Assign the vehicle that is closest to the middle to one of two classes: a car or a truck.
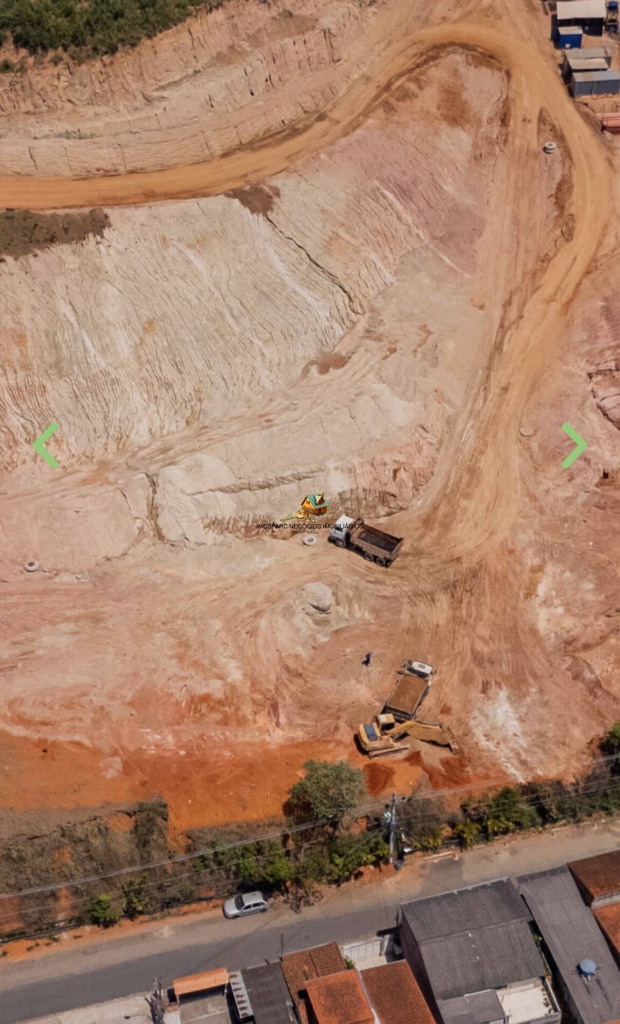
truck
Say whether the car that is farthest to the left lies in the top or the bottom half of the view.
bottom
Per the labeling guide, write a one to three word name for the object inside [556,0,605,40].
shed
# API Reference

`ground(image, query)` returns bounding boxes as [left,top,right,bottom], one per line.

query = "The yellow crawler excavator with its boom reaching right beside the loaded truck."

[357,708,463,759]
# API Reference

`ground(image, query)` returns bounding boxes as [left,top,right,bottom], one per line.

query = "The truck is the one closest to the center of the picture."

[326,513,406,568]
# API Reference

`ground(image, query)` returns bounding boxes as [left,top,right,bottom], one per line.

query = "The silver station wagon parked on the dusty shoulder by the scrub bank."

[221,888,272,919]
